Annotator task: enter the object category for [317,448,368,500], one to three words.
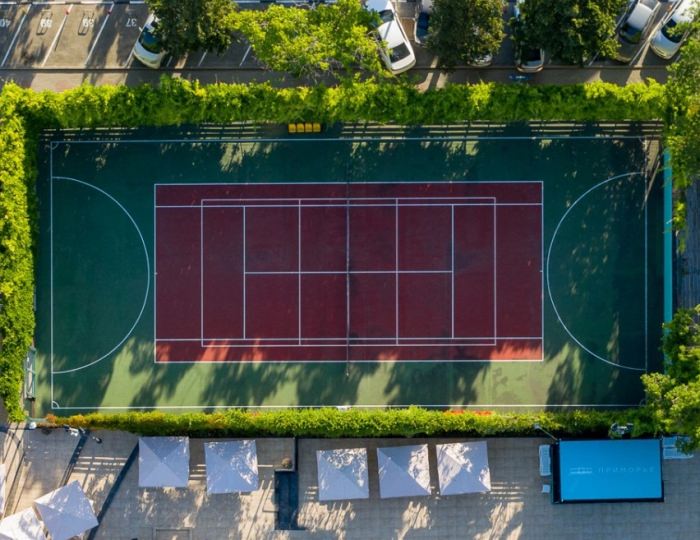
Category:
umbrella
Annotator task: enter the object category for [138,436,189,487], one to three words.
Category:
umbrella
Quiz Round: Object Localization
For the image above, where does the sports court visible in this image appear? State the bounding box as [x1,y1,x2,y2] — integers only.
[27,123,662,413]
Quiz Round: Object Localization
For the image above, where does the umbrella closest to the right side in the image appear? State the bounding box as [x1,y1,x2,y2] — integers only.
[436,440,490,494]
